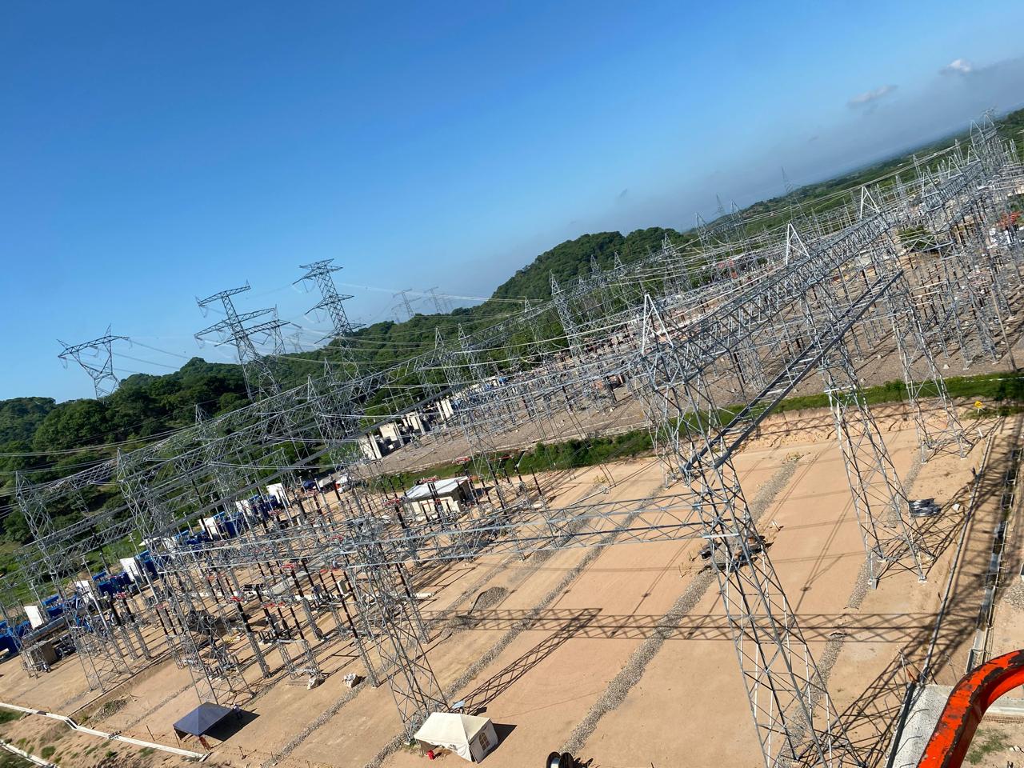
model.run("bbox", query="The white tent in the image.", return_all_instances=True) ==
[409,715,500,768]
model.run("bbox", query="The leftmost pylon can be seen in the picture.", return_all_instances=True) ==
[55,317,135,404]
